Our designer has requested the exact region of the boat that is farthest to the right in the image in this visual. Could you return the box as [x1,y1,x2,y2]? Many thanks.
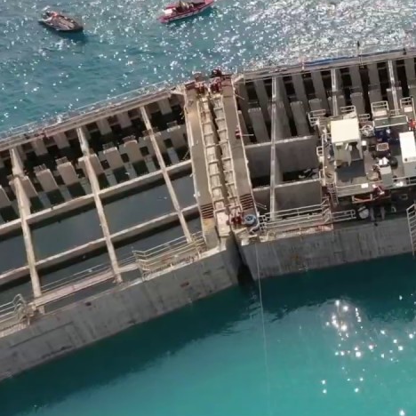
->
[157,0,214,26]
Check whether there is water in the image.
Yes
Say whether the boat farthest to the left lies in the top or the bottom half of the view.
top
